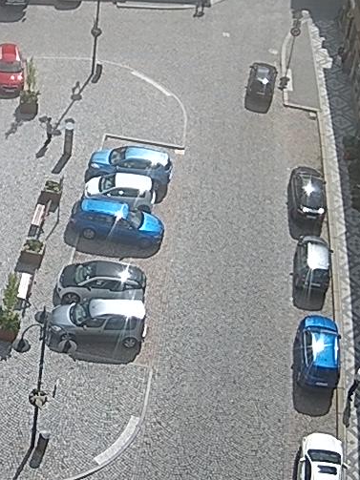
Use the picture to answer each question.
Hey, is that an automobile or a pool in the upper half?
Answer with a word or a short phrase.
automobile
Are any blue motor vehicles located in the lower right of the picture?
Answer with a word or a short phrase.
Yes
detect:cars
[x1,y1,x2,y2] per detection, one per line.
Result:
[291,236,342,297]
[85,171,160,210]
[246,73,283,110]
[70,198,168,245]
[57,261,150,308]
[0,45,25,90]
[294,314,350,387]
[290,174,335,228]
[50,303,149,362]
[89,146,173,185]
